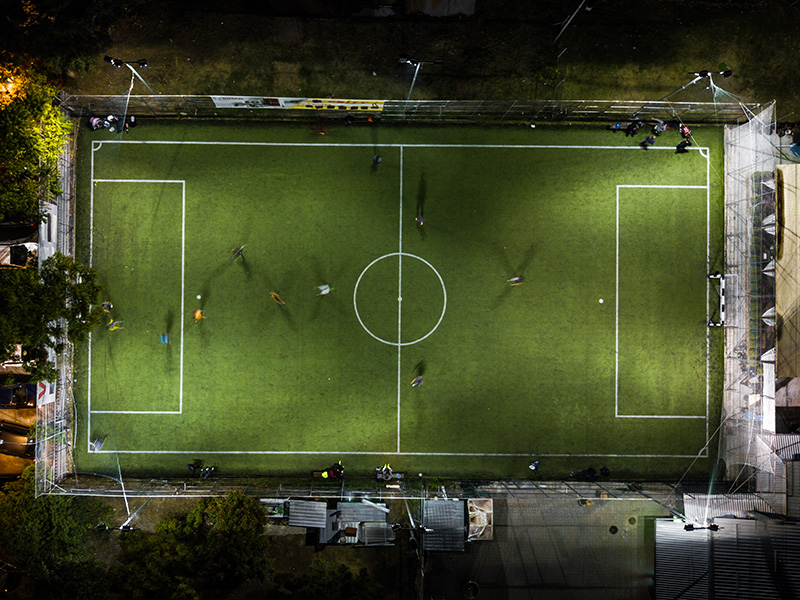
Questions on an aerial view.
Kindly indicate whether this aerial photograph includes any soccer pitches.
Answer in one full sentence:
Yes, the photo shows a soccer pitch.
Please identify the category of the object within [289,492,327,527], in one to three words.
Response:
shed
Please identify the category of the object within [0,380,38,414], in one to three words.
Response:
car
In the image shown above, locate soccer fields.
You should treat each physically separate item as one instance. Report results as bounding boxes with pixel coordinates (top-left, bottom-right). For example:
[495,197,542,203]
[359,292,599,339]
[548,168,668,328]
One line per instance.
[74,120,724,480]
